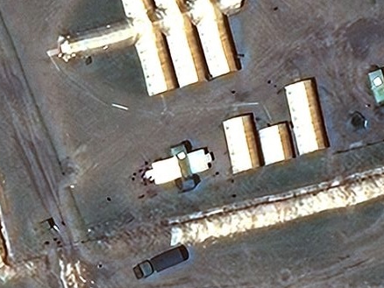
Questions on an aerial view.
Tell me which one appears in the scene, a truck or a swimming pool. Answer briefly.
truck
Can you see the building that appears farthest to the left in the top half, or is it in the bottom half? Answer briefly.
top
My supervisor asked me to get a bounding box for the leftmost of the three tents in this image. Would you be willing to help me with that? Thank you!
[223,118,262,174]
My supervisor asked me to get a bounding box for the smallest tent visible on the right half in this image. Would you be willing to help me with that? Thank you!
[258,126,291,166]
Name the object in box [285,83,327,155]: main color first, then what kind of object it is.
white tent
